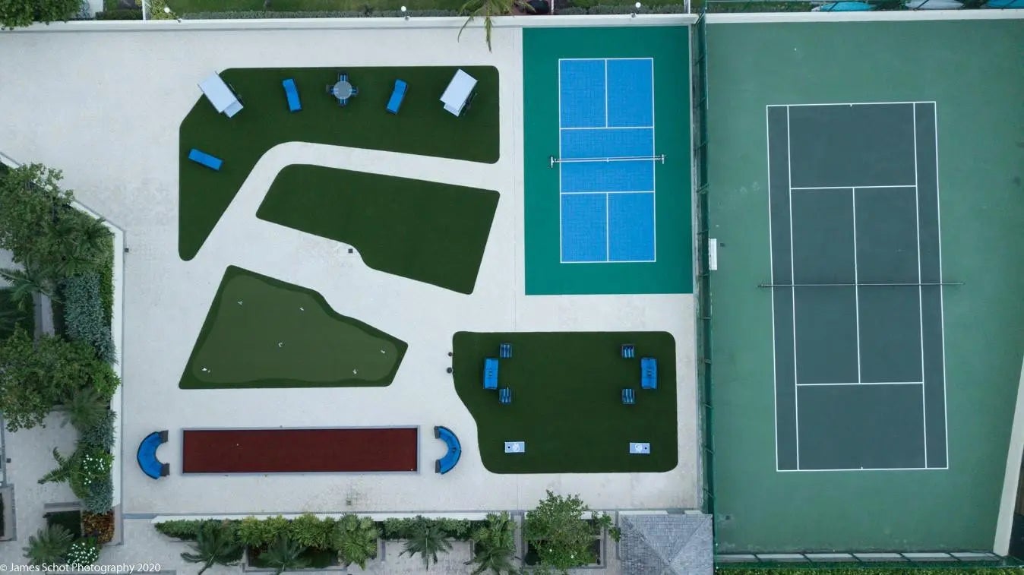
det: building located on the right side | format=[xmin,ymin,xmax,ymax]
[619,513,712,575]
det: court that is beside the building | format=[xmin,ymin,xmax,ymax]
[700,18,1024,555]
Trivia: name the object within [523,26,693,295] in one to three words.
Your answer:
sports court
